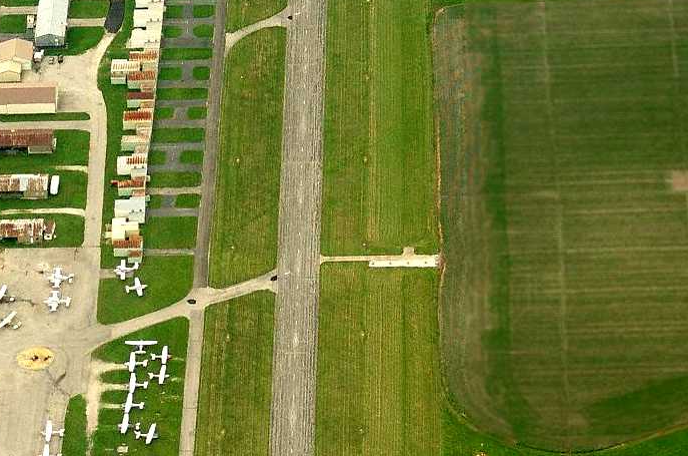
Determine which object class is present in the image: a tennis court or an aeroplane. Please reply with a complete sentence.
It is an aeroplane that can be seen here.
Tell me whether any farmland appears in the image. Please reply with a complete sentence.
Yes, the picture does contain farmland.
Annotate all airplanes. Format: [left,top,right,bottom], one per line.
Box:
[125,337,157,353]
[39,444,61,456]
[152,346,172,364]
[48,267,74,286]
[0,285,14,300]
[40,420,63,441]
[125,372,148,393]
[123,351,147,371]
[46,290,72,311]
[149,365,169,383]
[0,311,21,329]
[115,261,137,278]
[120,393,144,414]
[137,424,159,444]
[119,414,140,433]
[123,278,147,294]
